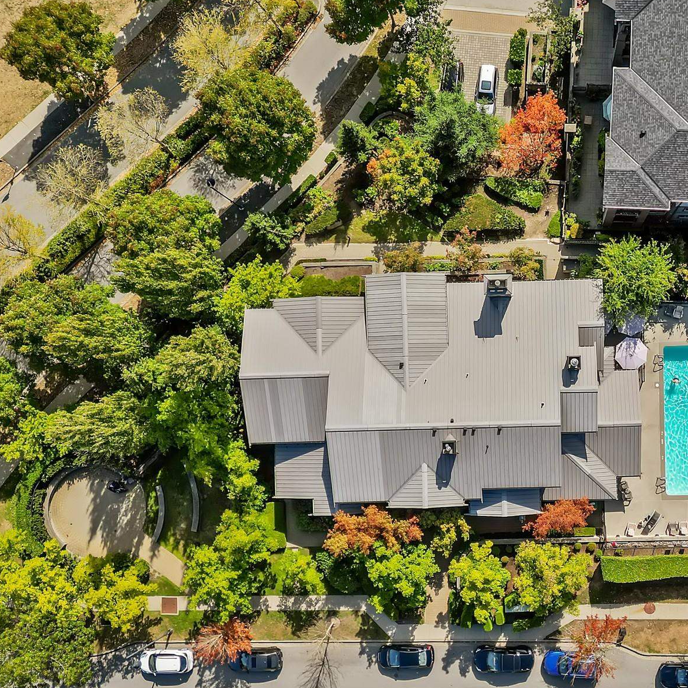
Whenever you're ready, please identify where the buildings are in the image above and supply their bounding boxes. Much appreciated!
[240,271,642,517]
[600,0,688,228]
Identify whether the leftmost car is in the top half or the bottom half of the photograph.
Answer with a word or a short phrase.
bottom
